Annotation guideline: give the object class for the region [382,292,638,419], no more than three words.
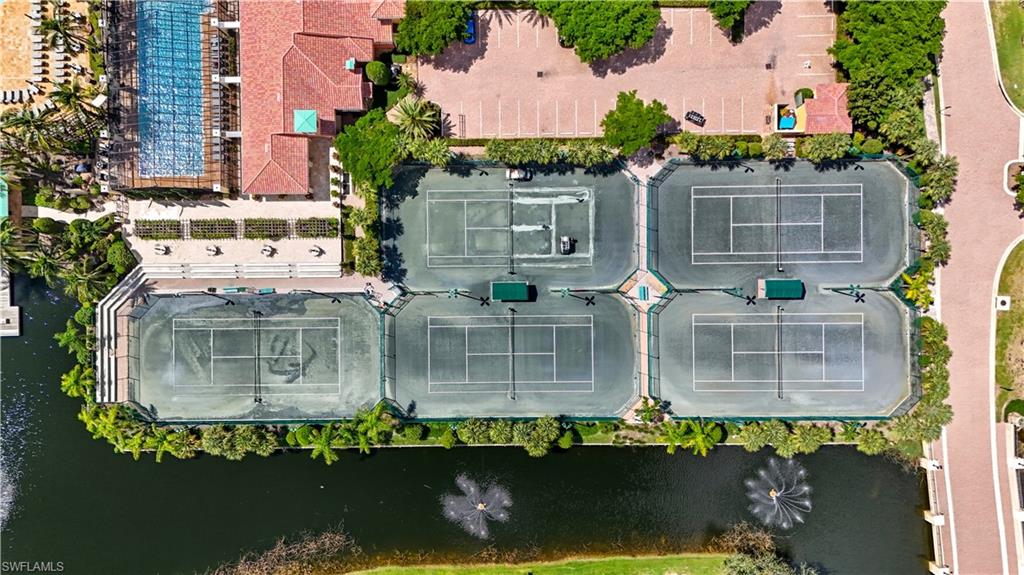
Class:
tennis court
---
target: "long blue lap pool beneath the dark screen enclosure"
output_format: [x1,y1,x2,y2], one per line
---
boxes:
[136,0,208,179]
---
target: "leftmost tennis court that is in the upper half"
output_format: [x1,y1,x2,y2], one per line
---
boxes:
[380,163,638,292]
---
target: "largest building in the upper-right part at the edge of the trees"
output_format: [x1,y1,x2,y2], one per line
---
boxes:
[792,82,853,136]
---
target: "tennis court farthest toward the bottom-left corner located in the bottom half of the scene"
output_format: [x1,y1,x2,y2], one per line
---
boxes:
[128,293,377,419]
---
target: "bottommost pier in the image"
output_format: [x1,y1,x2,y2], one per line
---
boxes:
[0,277,22,333]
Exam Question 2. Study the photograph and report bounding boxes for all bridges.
[920,422,1024,575]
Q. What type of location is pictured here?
sports ground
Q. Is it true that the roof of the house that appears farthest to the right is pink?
Yes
